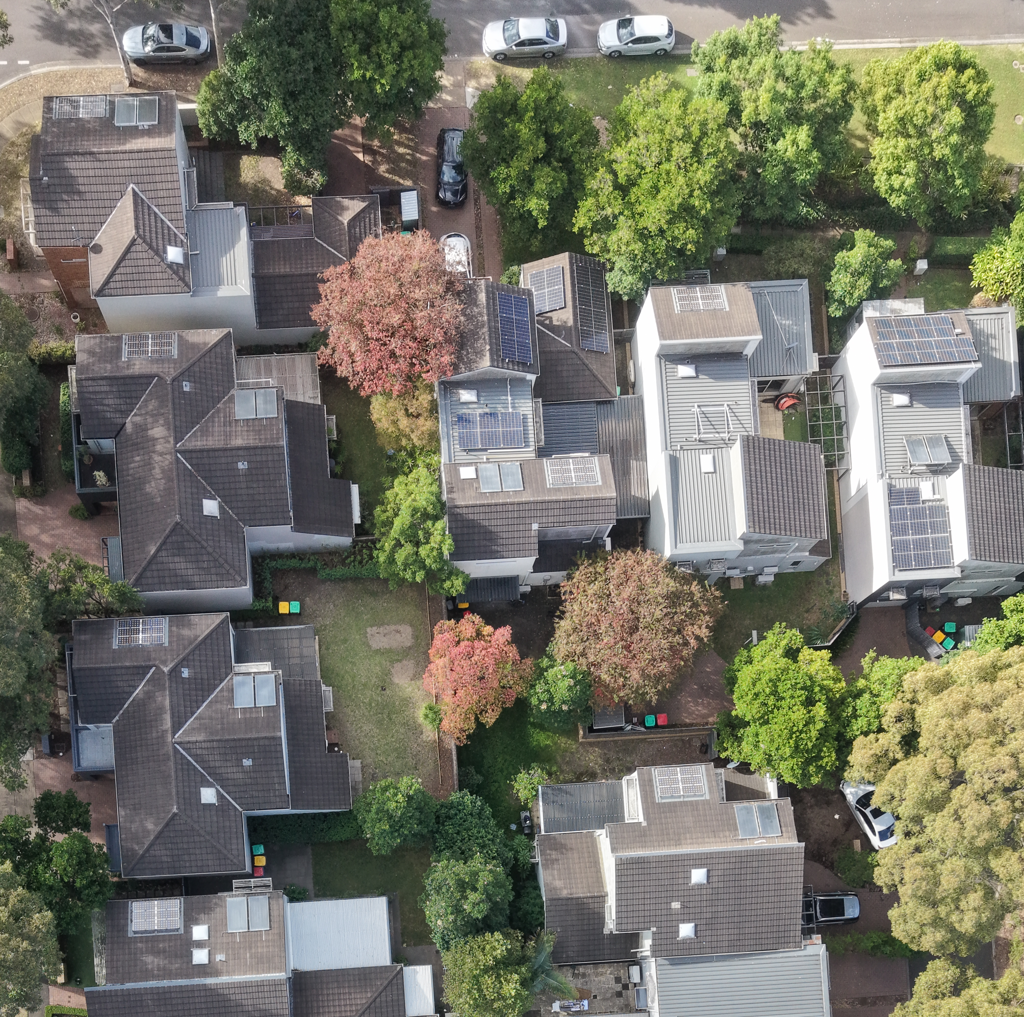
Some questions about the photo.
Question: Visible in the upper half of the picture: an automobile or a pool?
automobile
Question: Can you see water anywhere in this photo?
No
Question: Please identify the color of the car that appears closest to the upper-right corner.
white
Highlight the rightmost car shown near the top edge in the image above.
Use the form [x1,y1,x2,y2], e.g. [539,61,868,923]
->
[600,7,680,54]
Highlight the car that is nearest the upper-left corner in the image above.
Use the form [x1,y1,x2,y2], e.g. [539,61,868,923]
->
[120,17,208,65]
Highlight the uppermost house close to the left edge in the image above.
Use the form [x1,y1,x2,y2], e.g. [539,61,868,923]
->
[20,89,384,349]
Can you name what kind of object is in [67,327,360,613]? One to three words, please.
house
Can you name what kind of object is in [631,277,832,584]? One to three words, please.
house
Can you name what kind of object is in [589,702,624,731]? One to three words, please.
shed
